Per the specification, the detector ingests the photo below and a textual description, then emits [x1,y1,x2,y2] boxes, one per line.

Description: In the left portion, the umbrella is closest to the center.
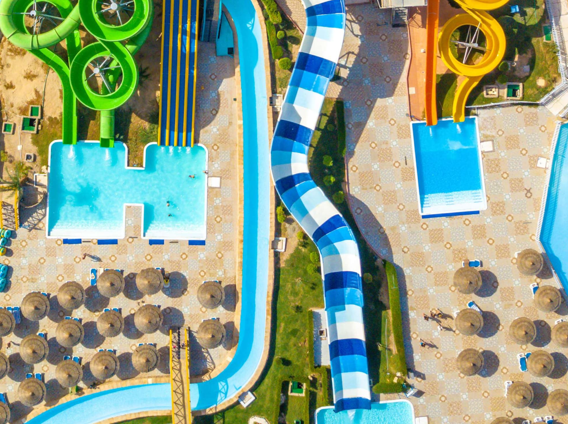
[195,280,225,310]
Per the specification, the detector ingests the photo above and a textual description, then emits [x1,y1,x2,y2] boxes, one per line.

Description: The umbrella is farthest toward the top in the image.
[515,246,544,275]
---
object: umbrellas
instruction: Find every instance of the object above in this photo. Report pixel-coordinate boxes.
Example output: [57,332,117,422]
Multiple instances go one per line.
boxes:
[515,246,544,275]
[195,280,225,310]
[452,265,482,295]
[16,376,47,406]
[0,306,16,336]
[507,316,538,346]
[21,291,51,321]
[54,358,84,388]
[0,350,11,378]
[454,347,484,376]
[195,318,226,348]
[54,317,85,347]
[453,306,483,337]
[130,343,161,373]
[550,319,568,349]
[90,349,119,378]
[532,283,561,313]
[20,334,49,363]
[525,348,555,378]
[134,266,165,295]
[96,268,126,297]
[96,308,125,337]
[134,304,163,333]
[545,386,568,415]
[55,279,87,310]
[505,380,534,409]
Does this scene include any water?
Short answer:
Yes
